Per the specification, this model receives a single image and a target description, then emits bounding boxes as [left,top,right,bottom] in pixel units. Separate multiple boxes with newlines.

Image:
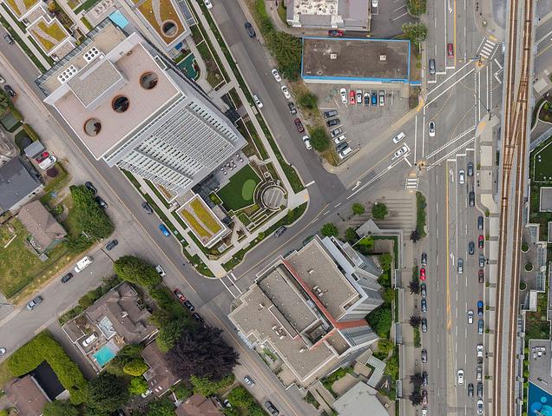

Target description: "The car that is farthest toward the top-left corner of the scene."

[2,31,16,47]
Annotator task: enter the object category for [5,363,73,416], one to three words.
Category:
house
